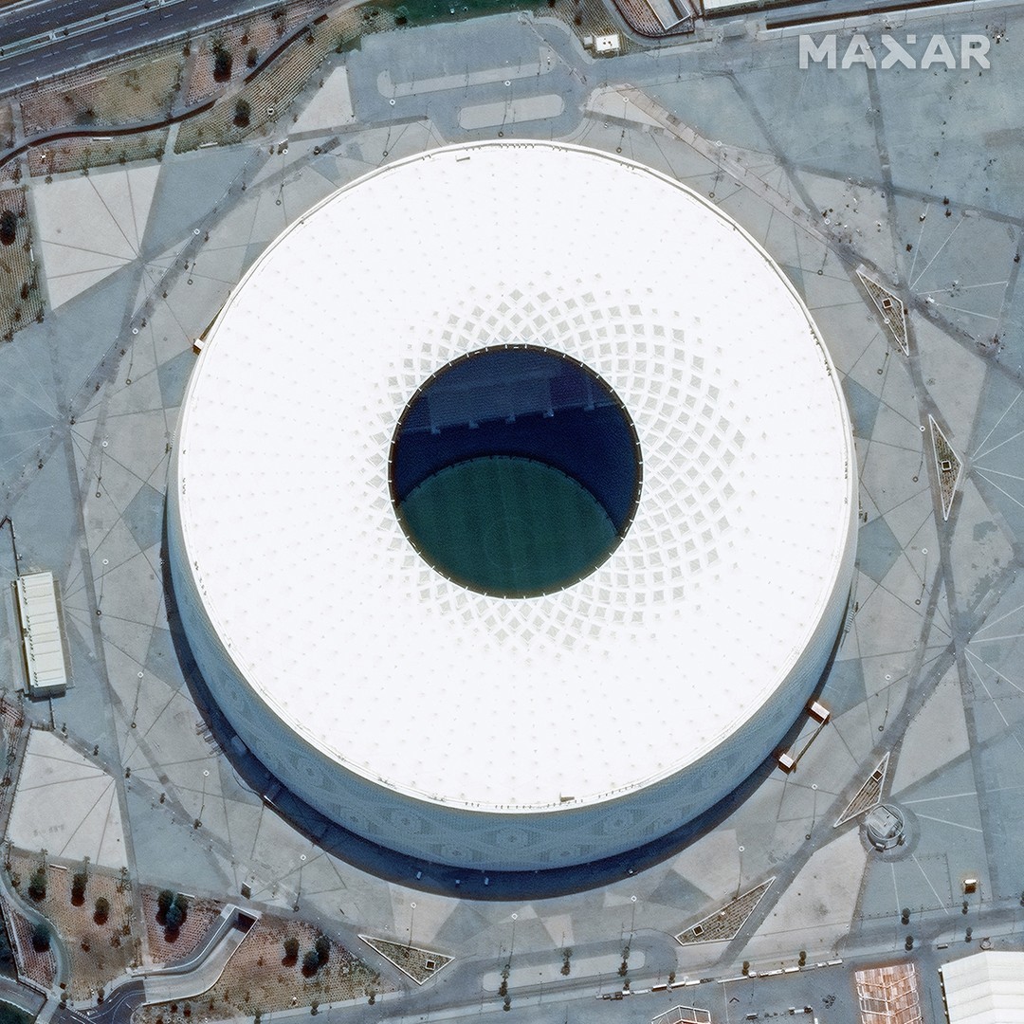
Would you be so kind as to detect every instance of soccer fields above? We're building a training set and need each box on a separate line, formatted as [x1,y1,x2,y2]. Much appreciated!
[394,429,637,594]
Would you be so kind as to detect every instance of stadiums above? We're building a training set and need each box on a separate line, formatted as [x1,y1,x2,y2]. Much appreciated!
[167,139,859,870]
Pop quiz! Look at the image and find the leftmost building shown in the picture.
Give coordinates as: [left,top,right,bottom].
[17,571,66,696]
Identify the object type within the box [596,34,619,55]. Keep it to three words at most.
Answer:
building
